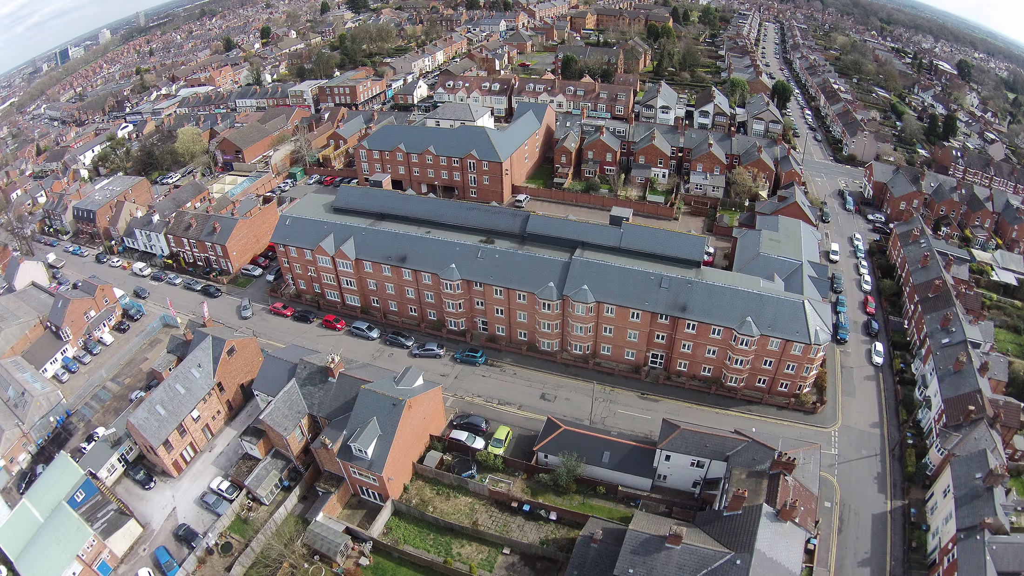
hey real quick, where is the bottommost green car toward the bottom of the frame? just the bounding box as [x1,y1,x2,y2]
[489,425,512,454]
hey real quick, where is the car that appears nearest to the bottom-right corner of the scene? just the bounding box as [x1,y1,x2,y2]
[869,342,885,364]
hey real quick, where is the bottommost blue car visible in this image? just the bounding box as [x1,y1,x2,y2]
[147,544,182,576]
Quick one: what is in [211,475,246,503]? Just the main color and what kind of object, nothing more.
white car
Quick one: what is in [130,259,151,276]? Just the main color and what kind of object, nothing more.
white vehicle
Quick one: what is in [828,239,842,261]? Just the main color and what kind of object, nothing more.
white vehicle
